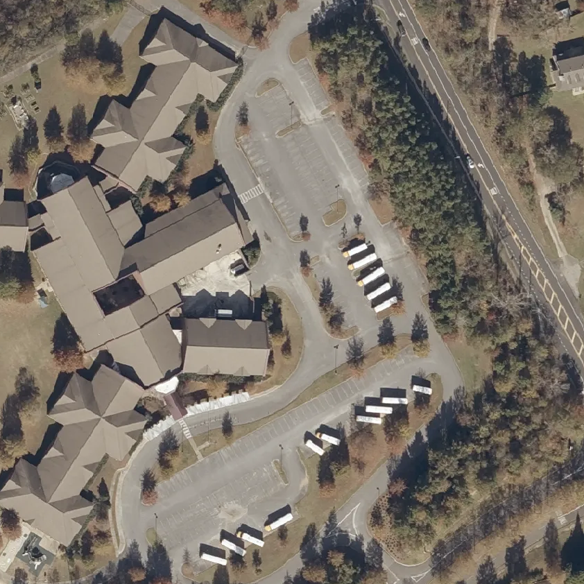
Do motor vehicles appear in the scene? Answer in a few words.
Yes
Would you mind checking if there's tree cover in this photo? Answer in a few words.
Yes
